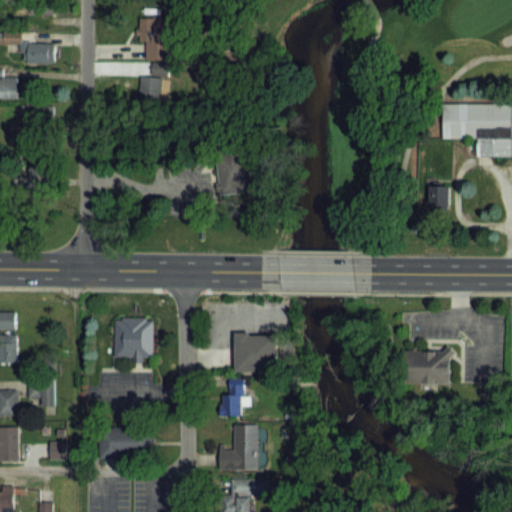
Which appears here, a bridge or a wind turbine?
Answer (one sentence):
The image shows a bridge.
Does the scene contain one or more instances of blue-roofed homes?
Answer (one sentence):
Yes, a blue-roofed home appears in the view.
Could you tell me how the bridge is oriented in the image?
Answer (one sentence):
The bridge has been laid out from left to right relative to the frame.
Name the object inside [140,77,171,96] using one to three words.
house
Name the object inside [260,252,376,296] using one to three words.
bridge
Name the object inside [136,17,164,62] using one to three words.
house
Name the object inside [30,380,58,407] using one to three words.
building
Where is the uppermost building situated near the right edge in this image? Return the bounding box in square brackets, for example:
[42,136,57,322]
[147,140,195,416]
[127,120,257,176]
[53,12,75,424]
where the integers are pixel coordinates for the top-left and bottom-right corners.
[442,104,512,158]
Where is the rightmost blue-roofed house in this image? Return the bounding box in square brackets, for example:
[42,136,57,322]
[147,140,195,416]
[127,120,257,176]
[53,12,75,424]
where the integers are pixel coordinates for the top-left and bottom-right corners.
[220,380,254,419]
